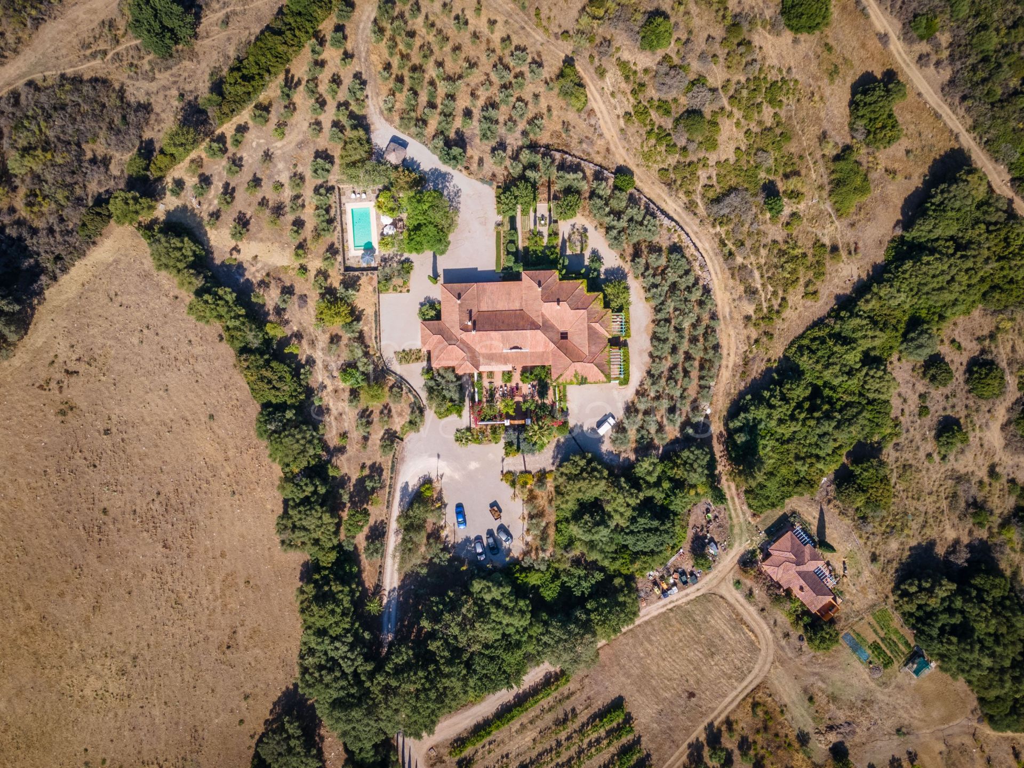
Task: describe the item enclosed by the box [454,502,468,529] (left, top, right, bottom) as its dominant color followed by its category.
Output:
blue car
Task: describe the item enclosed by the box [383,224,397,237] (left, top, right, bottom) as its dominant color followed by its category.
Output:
white umbrella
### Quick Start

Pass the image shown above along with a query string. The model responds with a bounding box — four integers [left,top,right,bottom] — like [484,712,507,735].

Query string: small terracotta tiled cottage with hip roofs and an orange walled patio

[762,530,842,622]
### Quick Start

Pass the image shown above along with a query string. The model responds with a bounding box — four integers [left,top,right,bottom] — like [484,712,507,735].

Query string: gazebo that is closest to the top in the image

[385,143,408,167]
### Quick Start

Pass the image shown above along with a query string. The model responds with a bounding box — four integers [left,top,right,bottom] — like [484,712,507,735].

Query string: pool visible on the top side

[346,202,378,256]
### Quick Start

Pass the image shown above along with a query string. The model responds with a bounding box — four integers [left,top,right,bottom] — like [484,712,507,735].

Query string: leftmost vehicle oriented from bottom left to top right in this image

[595,414,617,437]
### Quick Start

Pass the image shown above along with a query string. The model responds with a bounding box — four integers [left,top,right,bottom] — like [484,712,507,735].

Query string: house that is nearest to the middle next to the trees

[420,270,612,383]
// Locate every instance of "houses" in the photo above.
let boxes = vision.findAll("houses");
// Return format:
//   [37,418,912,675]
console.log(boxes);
[762,530,842,622]
[420,270,612,383]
